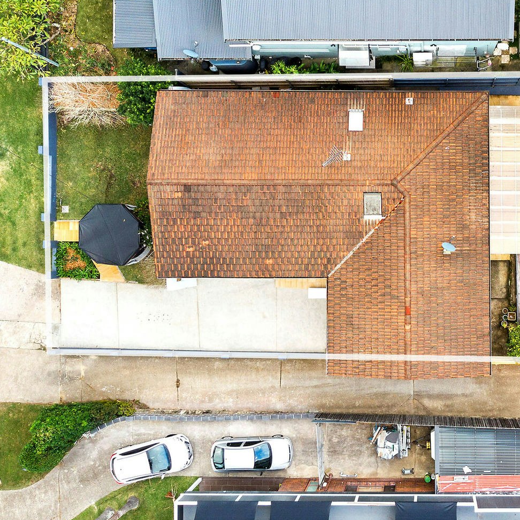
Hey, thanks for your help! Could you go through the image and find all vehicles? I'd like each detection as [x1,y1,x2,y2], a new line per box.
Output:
[105,435,197,487]
[210,435,292,478]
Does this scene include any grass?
Yes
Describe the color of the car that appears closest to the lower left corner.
white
